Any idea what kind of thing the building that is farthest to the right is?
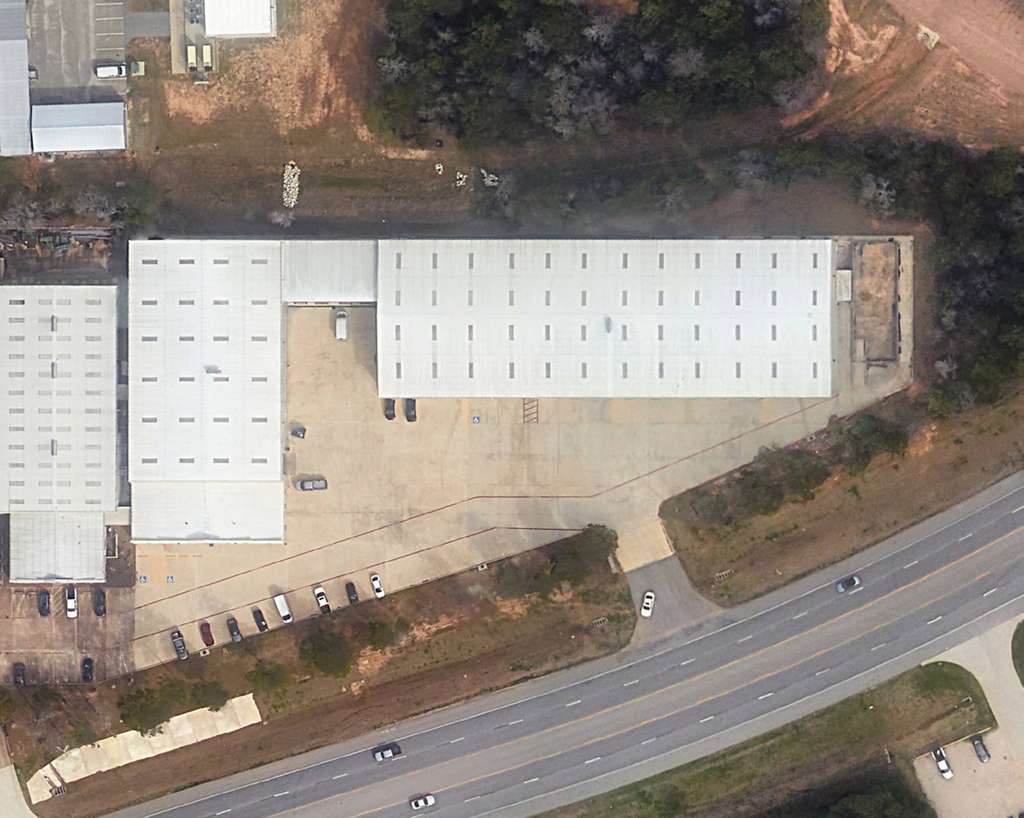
warehouse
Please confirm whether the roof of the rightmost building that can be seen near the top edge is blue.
No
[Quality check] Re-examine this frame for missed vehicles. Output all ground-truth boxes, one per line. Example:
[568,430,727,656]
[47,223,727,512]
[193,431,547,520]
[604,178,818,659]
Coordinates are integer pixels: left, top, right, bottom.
[405,398,416,422]
[38,591,51,616]
[274,593,292,624]
[932,746,952,779]
[201,43,214,72]
[370,573,385,598]
[13,662,25,684]
[186,44,199,73]
[315,585,332,614]
[201,622,214,646]
[171,629,189,660]
[295,479,328,491]
[973,739,989,763]
[82,657,94,681]
[227,618,242,642]
[95,591,106,616]
[836,575,861,593]
[642,591,654,617]
[252,606,268,632]
[346,581,359,604]
[95,65,127,78]
[410,794,435,810]
[65,586,79,618]
[335,312,348,340]
[384,398,396,420]
[372,743,402,761]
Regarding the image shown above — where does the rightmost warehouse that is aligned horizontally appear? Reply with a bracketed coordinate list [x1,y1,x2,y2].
[377,239,832,398]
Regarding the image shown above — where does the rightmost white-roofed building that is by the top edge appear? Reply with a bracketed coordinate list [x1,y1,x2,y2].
[206,0,278,44]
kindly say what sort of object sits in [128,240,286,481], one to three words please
warehouse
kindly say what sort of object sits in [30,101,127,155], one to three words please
shed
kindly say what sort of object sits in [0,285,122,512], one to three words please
building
